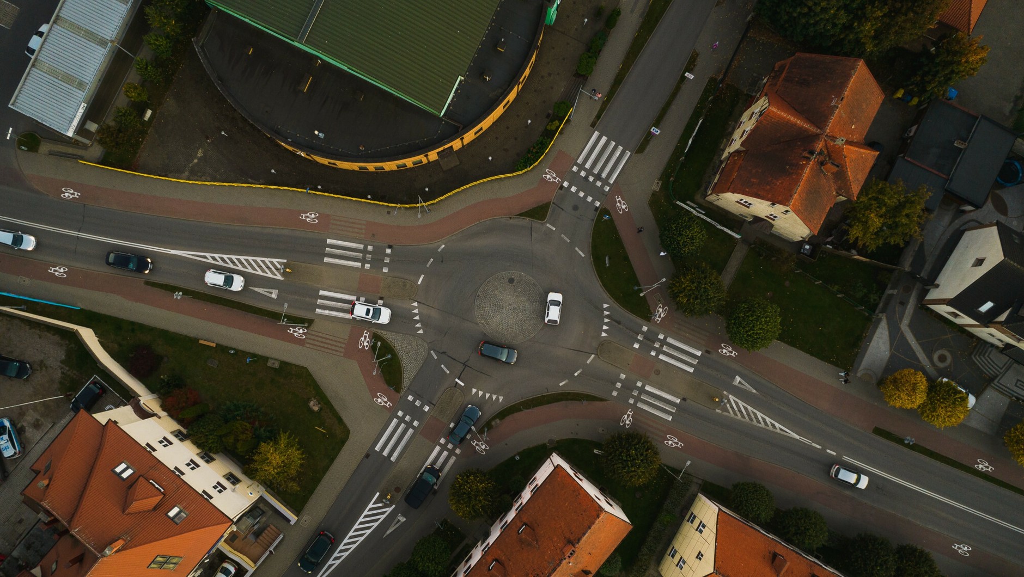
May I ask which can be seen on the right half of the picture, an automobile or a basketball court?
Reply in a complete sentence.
The feature located on the right half of the picture is an automobile.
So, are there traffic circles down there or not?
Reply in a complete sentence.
Yes, looking at the shot, I can spot a traffic circle.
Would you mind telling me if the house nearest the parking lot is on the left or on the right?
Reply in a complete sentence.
The house nearest the parking lot appears in the left half of the scene.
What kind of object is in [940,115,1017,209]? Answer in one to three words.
building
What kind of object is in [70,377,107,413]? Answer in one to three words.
car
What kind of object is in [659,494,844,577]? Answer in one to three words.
house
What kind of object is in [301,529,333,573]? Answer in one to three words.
car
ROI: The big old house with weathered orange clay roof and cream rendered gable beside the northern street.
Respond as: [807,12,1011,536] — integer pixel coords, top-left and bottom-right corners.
[708,53,884,237]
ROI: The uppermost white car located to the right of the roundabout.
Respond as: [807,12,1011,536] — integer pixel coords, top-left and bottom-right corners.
[545,292,563,325]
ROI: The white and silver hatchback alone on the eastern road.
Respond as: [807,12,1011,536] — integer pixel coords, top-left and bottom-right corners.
[828,463,868,489]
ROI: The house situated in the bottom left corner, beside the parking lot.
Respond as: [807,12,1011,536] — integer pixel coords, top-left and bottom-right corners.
[21,403,259,577]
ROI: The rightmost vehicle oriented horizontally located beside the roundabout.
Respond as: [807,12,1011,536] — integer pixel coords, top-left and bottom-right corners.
[477,341,518,364]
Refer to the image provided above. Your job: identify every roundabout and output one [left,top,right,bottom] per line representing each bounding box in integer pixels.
[475,272,546,343]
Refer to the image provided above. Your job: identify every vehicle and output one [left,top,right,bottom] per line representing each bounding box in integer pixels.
[203,270,247,291]
[828,463,868,489]
[545,292,563,325]
[350,301,393,323]
[211,555,238,577]
[0,416,24,461]
[0,353,30,377]
[106,252,155,274]
[70,377,107,413]
[448,403,480,445]
[867,135,888,171]
[405,462,440,512]
[301,529,333,573]
[477,341,518,364]
[0,230,38,251]
[22,21,46,58]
